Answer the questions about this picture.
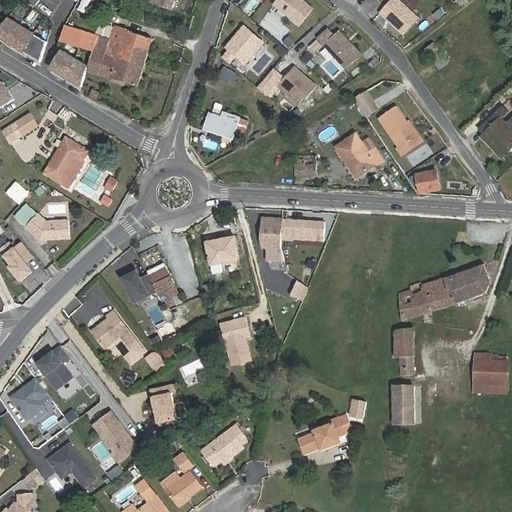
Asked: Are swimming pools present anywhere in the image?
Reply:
Yes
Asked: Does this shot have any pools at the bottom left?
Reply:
Yes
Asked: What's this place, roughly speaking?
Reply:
residential area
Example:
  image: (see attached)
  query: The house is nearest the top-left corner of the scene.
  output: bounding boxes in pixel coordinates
[0,17,48,64]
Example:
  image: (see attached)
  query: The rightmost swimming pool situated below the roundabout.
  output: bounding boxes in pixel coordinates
[146,303,165,326]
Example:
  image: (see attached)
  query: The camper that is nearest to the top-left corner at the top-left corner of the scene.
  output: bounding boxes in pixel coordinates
[36,2,52,16]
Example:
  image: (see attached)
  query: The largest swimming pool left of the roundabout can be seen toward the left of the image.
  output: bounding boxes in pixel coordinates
[78,164,104,193]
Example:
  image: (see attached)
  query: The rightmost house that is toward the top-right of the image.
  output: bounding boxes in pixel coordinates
[478,97,512,134]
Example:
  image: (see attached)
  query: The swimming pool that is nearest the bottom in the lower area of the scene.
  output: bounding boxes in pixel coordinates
[114,485,137,504]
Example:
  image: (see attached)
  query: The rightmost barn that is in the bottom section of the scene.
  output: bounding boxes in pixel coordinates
[472,352,509,394]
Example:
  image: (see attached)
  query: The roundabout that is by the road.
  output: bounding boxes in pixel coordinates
[140,158,210,230]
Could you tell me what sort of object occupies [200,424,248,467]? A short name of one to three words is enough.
house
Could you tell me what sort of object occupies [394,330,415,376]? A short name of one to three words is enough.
barn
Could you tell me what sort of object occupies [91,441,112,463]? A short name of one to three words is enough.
swimming pool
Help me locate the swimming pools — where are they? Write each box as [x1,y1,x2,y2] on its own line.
[202,139,219,152]
[146,303,165,326]
[255,52,273,76]
[78,164,104,193]
[318,126,336,142]
[244,0,259,11]
[114,485,137,504]
[76,186,90,198]
[323,59,340,78]
[91,441,112,463]
[42,414,58,428]
[448,180,462,190]
[418,20,430,32]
